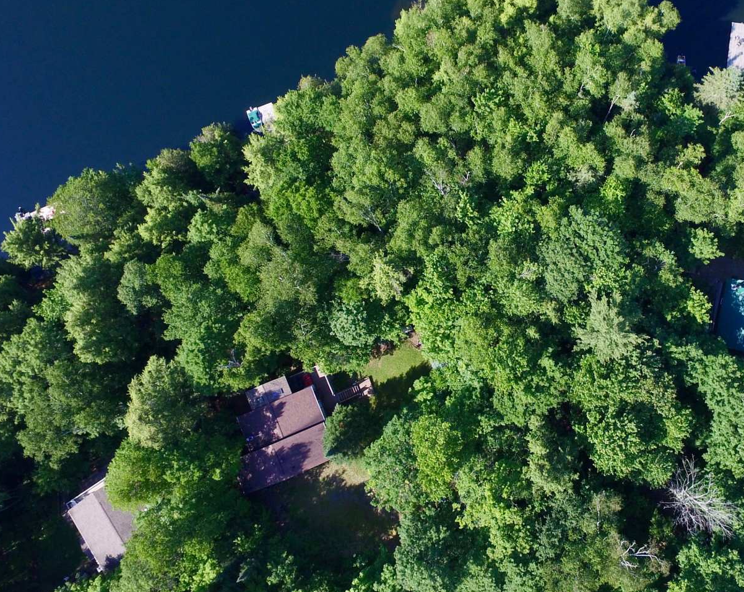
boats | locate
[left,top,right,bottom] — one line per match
[246,106,262,131]
[15,208,30,222]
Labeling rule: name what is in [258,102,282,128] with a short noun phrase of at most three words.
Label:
pier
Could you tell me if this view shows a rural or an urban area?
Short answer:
rural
